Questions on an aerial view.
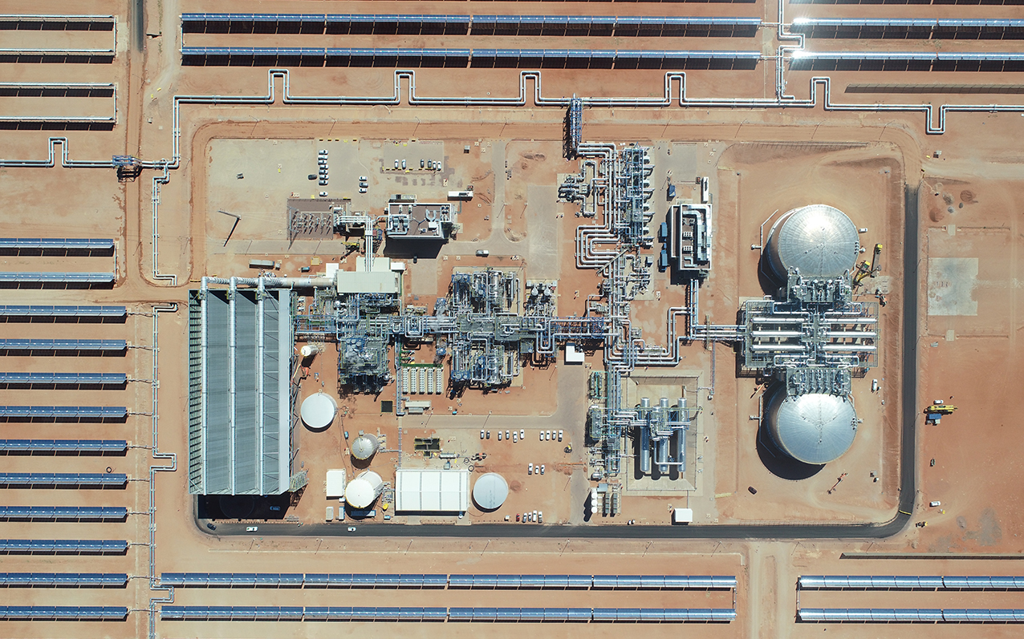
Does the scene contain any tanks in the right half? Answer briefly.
Yes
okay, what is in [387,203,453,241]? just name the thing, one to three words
building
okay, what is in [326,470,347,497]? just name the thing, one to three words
building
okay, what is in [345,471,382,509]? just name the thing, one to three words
storage tank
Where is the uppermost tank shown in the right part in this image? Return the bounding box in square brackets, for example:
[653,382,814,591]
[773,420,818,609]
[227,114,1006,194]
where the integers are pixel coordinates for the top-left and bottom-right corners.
[765,203,859,283]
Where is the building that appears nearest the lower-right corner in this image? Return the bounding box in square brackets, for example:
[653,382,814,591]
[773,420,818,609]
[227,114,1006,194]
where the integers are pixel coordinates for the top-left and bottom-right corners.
[673,506,693,523]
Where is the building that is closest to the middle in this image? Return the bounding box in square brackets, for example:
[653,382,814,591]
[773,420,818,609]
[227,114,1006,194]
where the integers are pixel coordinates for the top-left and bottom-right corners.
[565,343,585,362]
